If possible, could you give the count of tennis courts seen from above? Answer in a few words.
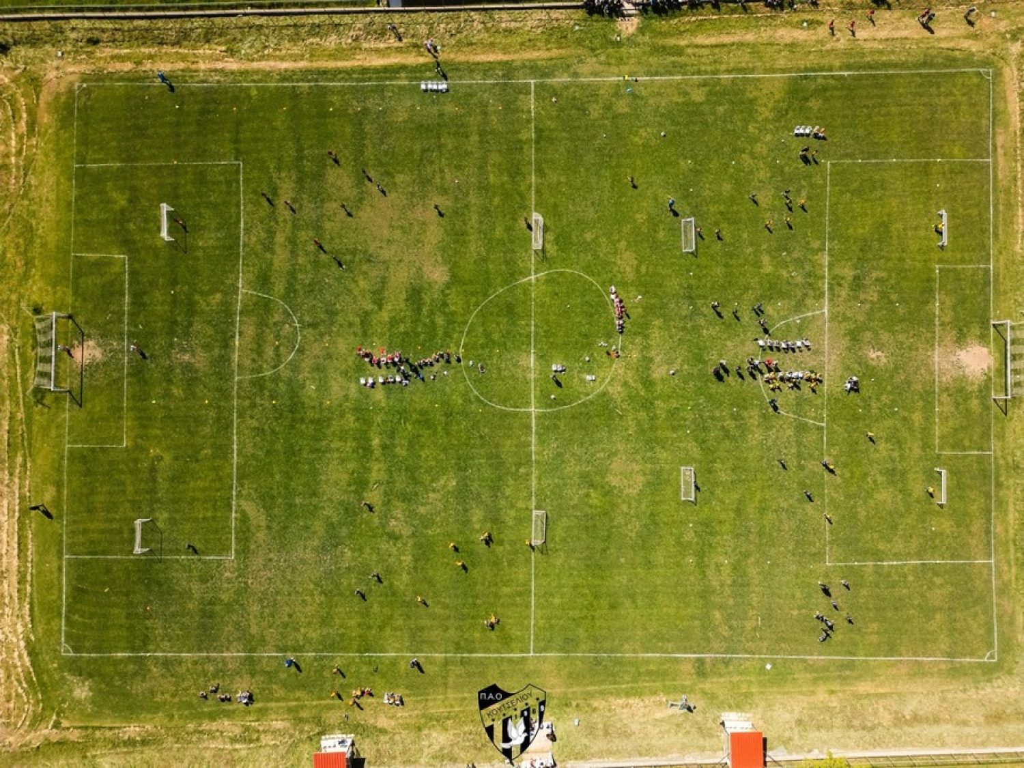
0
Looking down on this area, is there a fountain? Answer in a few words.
No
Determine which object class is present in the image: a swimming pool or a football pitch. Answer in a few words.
football pitch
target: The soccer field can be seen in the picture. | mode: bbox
[57,65,1001,666]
